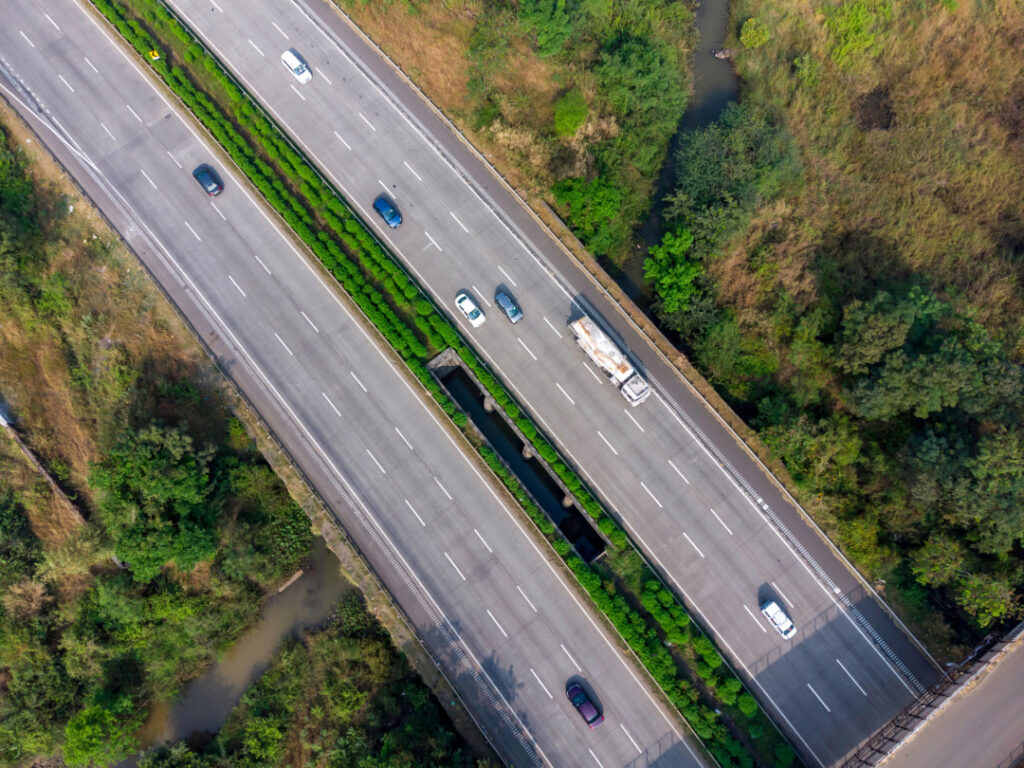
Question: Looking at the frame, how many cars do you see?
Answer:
7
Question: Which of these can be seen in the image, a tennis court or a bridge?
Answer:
bridge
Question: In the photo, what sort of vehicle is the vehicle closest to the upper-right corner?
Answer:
truck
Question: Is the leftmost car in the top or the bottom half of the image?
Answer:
top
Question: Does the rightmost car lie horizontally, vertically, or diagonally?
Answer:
diagonally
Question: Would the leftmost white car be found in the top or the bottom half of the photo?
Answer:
top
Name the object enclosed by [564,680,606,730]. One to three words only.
car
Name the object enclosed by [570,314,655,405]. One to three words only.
truck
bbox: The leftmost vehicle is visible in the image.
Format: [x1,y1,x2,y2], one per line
[191,165,223,198]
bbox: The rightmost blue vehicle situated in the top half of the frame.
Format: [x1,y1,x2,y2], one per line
[492,290,524,323]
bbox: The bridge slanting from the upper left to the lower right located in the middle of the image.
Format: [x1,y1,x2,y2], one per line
[423,346,611,572]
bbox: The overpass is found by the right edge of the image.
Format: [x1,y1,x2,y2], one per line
[817,618,1024,768]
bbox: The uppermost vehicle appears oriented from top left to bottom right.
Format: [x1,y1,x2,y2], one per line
[277,48,312,84]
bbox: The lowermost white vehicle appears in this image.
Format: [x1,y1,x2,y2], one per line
[755,596,797,642]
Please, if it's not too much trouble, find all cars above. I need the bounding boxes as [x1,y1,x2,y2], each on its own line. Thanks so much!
[755,596,797,642]
[564,680,606,730]
[492,290,524,323]
[453,291,489,329]
[191,165,223,198]
[277,48,312,84]
[370,196,403,230]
